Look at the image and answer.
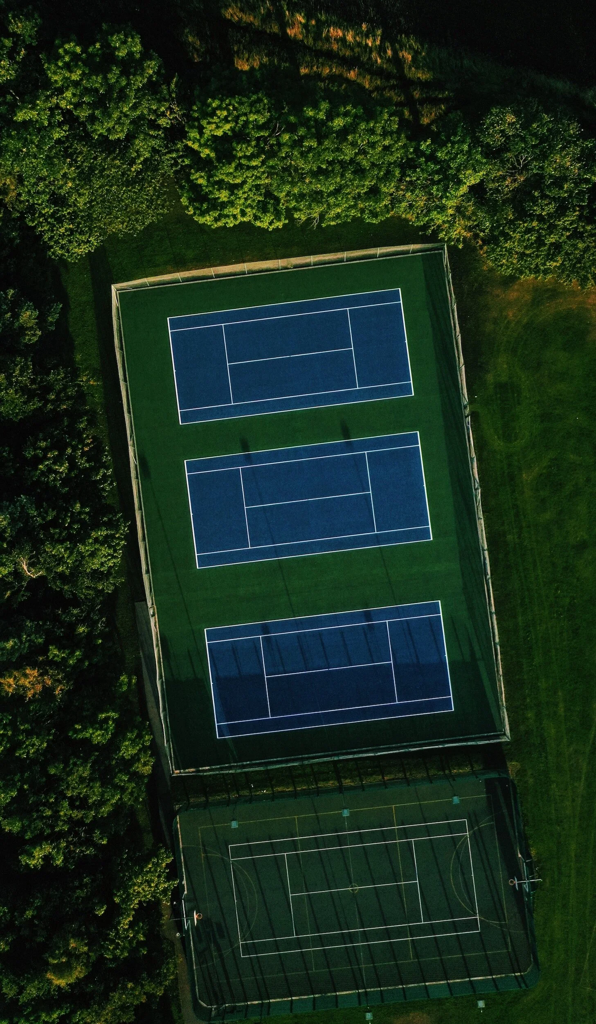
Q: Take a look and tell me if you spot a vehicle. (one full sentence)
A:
No, the photo shows no vehicle.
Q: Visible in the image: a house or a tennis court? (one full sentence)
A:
This aerial view contains a tennis court.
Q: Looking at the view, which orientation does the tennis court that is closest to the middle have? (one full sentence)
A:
The tennis court that is closest to the middle is laid out from side to side.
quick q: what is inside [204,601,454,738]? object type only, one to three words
tennis court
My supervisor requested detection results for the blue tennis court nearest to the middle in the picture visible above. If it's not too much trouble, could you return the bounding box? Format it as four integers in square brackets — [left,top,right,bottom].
[184,431,433,569]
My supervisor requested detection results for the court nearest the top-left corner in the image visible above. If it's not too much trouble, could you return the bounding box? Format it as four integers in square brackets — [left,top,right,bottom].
[167,288,414,425]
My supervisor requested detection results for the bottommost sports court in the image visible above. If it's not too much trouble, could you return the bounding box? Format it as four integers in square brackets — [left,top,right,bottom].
[176,766,534,1008]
